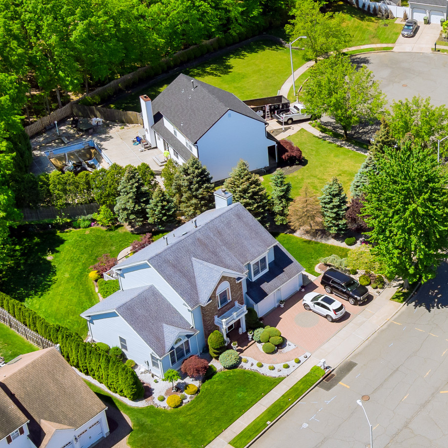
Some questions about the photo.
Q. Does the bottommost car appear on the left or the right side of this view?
right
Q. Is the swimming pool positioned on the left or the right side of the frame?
left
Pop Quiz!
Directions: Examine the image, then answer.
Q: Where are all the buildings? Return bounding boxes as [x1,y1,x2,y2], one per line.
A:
[139,73,282,185]
[406,0,448,23]
[0,350,109,448]
[75,189,305,379]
